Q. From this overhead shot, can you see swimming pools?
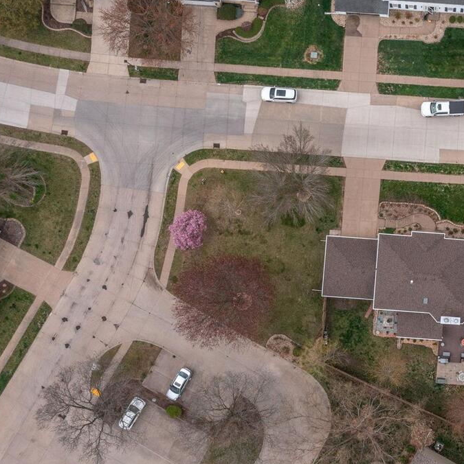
No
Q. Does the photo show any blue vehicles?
No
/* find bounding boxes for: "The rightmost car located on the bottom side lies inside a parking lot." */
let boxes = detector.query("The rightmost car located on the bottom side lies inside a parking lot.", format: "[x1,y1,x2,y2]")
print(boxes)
[168,366,192,401]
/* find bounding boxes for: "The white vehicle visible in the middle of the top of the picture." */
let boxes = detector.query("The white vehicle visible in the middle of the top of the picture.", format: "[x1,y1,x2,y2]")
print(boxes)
[264,86,297,103]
